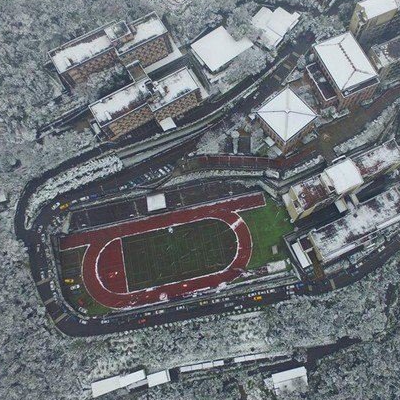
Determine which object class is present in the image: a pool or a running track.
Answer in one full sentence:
It is a running track that can be seen here.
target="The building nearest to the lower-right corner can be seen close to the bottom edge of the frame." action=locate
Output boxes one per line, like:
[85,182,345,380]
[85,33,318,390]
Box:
[264,364,310,395]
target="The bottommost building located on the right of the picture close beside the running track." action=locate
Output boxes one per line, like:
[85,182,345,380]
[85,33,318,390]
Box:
[308,187,400,263]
